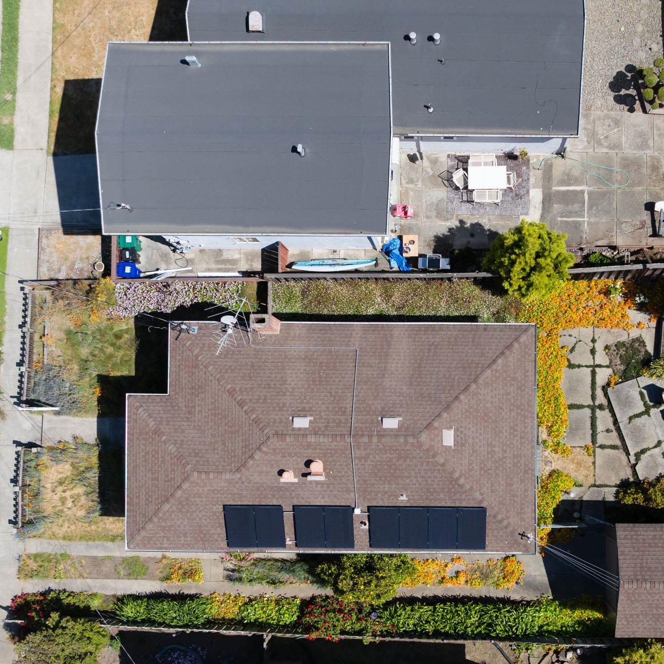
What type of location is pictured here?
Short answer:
residential area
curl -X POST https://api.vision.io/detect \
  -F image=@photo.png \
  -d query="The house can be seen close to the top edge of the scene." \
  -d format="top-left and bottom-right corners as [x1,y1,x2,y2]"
[91,0,589,251]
